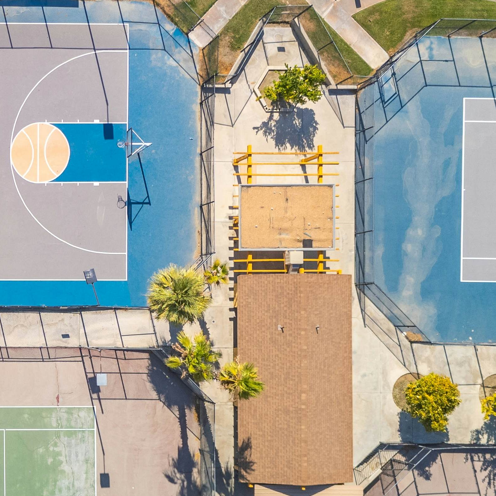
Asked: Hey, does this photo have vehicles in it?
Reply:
No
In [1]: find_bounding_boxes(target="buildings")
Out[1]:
[233,183,335,252]
[232,275,352,490]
